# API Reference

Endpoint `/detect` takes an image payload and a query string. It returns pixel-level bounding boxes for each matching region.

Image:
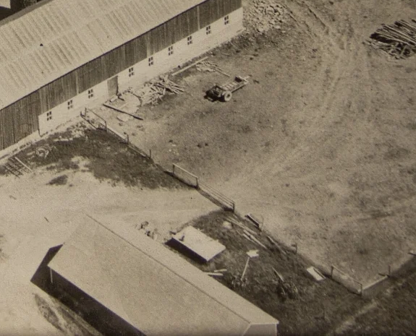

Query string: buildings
[46,215,279,336]
[0,0,244,158]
